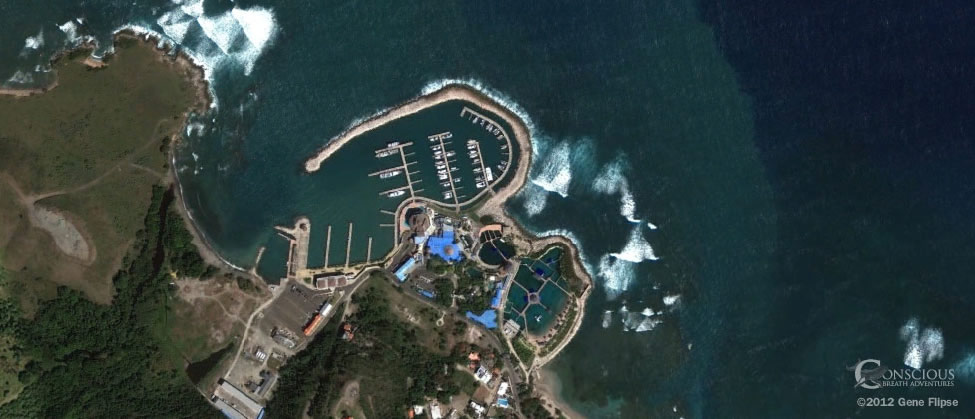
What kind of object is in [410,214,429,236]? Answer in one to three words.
building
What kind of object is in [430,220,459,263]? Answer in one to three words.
building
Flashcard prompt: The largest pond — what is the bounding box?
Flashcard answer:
[505,247,570,336]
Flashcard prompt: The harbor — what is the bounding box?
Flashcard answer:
[256,84,531,268]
